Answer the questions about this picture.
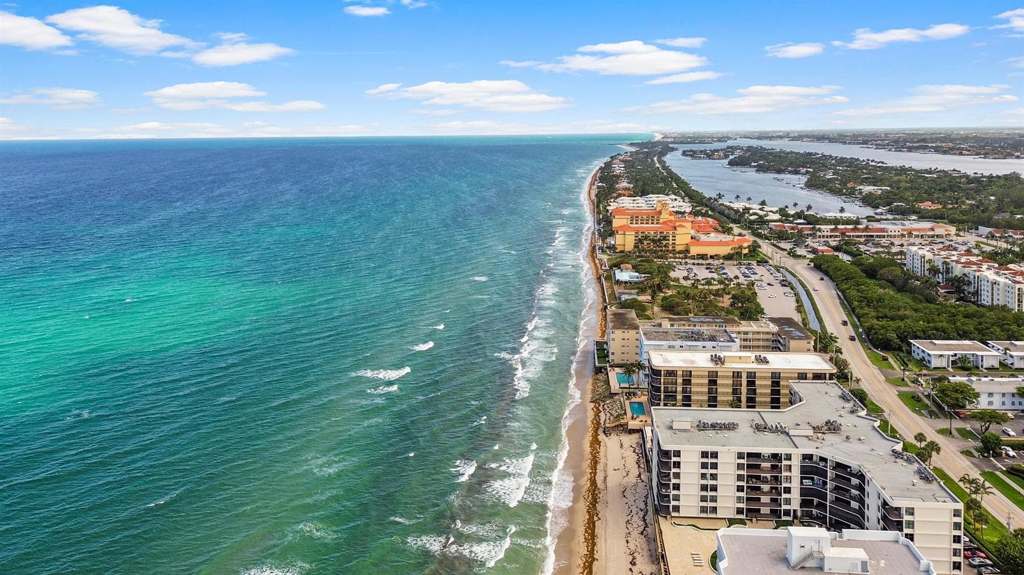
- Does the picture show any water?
Yes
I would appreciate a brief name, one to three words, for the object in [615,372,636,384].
swimming pool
